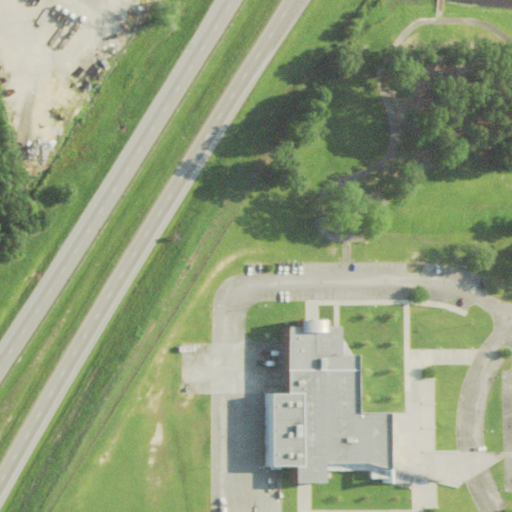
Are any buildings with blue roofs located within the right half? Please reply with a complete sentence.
No, no building with a blue roof can be made out within the right half.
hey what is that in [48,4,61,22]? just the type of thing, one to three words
vehicle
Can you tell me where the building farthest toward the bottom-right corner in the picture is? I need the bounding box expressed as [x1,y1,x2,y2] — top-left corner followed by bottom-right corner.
[266,318,460,488]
